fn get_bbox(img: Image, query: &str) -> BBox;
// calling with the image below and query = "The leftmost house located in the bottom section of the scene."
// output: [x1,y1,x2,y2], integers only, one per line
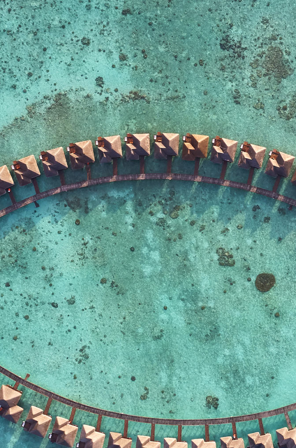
[0,382,24,423]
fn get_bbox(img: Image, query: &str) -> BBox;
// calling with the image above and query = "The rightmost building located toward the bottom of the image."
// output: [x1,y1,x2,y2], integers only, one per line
[274,412,296,448]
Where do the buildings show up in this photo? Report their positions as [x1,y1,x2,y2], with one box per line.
[191,426,216,448]
[164,425,187,448]
[274,412,296,448]
[208,134,238,179]
[236,139,266,184]
[263,148,295,192]
[38,147,68,185]
[48,407,79,448]
[218,423,244,448]
[0,165,16,203]
[21,397,53,438]
[10,155,41,193]
[152,131,179,173]
[107,420,131,448]
[0,382,24,423]
[246,419,273,448]
[123,132,150,173]
[65,140,95,179]
[94,135,122,174]
[136,424,160,448]
[182,131,209,175]
[76,415,106,448]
